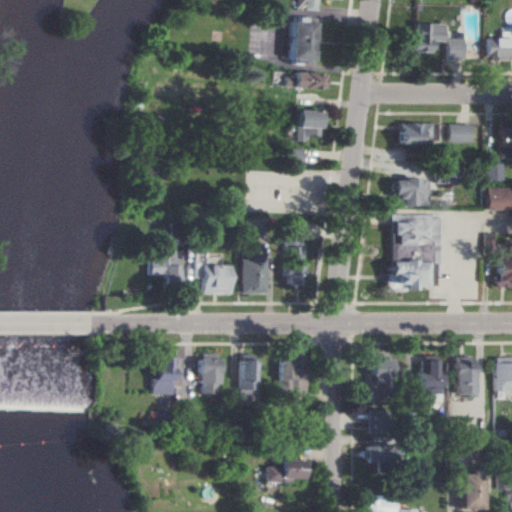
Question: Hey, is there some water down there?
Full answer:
Yes, there is water in the image.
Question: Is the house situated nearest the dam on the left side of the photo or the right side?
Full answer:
The house situated nearest the dam is on the left side of the image.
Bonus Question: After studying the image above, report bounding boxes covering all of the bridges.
[0,311,93,336]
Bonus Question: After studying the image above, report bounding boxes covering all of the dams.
[0,384,94,414]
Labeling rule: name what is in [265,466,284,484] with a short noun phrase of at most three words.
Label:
building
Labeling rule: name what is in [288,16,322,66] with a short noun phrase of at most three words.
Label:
building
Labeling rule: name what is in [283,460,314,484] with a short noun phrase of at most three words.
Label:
house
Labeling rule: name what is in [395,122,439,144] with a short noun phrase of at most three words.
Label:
house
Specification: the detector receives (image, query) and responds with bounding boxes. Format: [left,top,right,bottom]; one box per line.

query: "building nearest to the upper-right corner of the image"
[484,30,512,62]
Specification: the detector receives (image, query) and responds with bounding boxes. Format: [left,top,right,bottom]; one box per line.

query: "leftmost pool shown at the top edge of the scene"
[461,5,480,58]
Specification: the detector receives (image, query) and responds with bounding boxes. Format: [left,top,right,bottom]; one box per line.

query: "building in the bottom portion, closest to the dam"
[149,358,186,396]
